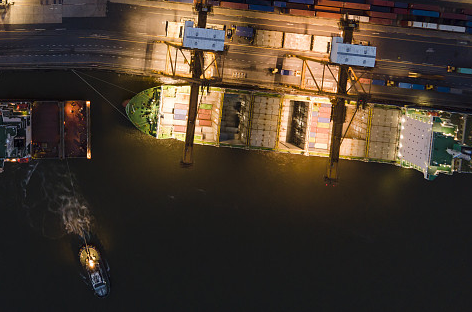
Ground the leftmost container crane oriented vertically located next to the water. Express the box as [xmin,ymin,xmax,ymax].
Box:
[152,0,230,170]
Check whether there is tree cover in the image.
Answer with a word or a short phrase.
No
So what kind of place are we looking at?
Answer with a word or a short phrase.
port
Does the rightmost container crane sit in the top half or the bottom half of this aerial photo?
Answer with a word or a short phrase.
top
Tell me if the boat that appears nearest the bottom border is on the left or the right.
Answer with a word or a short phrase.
left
